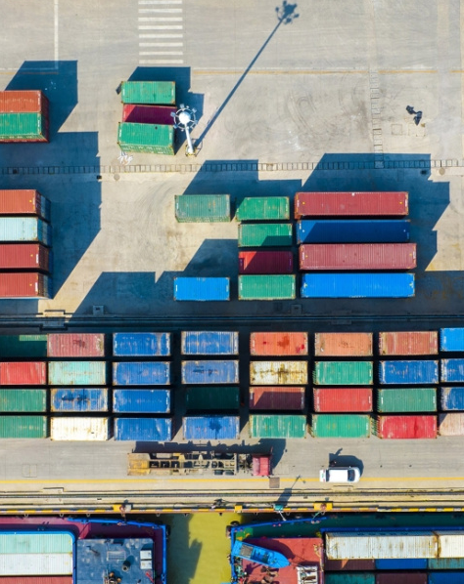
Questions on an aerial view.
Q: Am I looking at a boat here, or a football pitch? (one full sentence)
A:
There is a boat in the scene.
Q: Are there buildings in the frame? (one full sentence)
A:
No, no building can be seen from above.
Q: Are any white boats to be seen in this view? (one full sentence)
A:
No, the picture doesn't show any white boat.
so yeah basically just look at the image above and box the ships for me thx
[221,511,464,584]
[0,516,173,584]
